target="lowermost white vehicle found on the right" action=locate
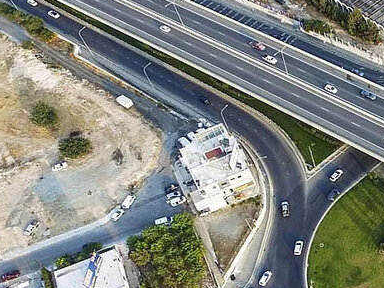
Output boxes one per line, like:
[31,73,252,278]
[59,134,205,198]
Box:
[258,270,272,286]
